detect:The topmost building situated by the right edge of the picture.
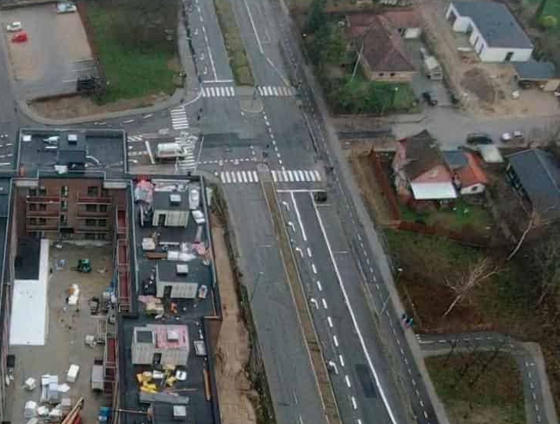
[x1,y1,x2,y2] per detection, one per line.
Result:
[440,1,533,66]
